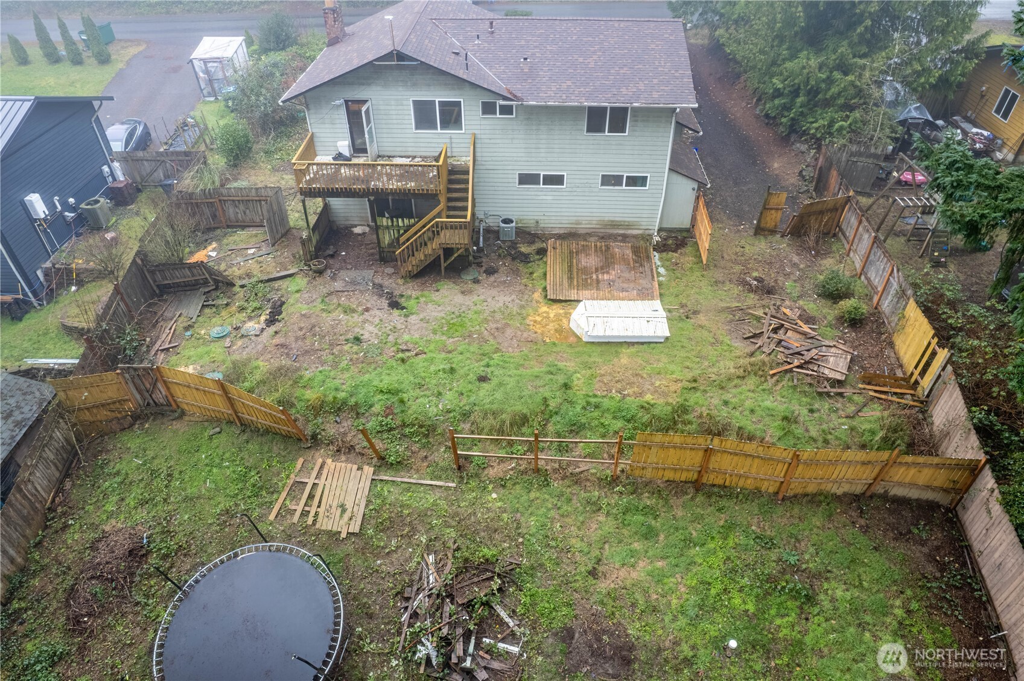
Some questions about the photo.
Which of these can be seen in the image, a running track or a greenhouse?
greenhouse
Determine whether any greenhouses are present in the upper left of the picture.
Yes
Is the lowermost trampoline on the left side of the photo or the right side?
left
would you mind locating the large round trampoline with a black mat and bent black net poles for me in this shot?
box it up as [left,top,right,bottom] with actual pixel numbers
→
[137,513,348,681]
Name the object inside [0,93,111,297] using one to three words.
house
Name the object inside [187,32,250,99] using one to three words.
greenhouse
